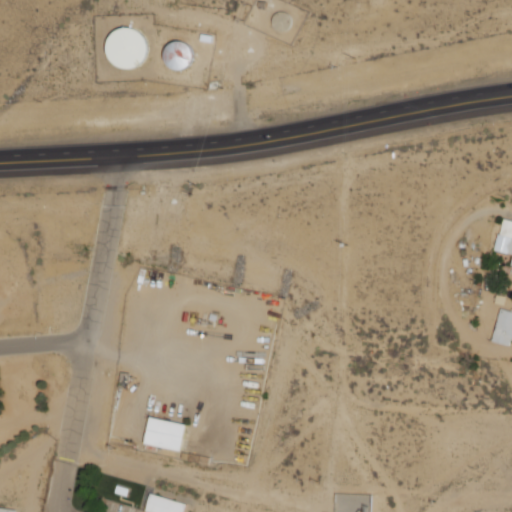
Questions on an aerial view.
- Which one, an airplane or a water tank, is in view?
water tank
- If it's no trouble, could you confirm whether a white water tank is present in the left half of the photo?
Yes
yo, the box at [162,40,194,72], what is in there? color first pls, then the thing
white water tank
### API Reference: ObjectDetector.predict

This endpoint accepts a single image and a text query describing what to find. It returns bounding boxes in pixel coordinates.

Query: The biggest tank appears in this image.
[104,23,150,71]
